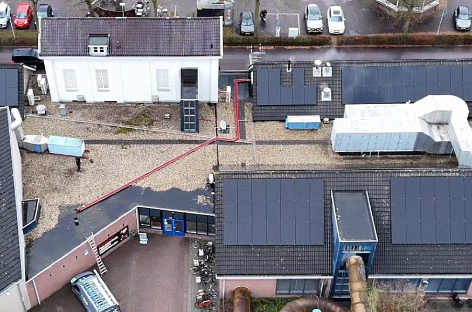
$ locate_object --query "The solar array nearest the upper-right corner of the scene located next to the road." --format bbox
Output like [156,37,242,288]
[343,65,472,104]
